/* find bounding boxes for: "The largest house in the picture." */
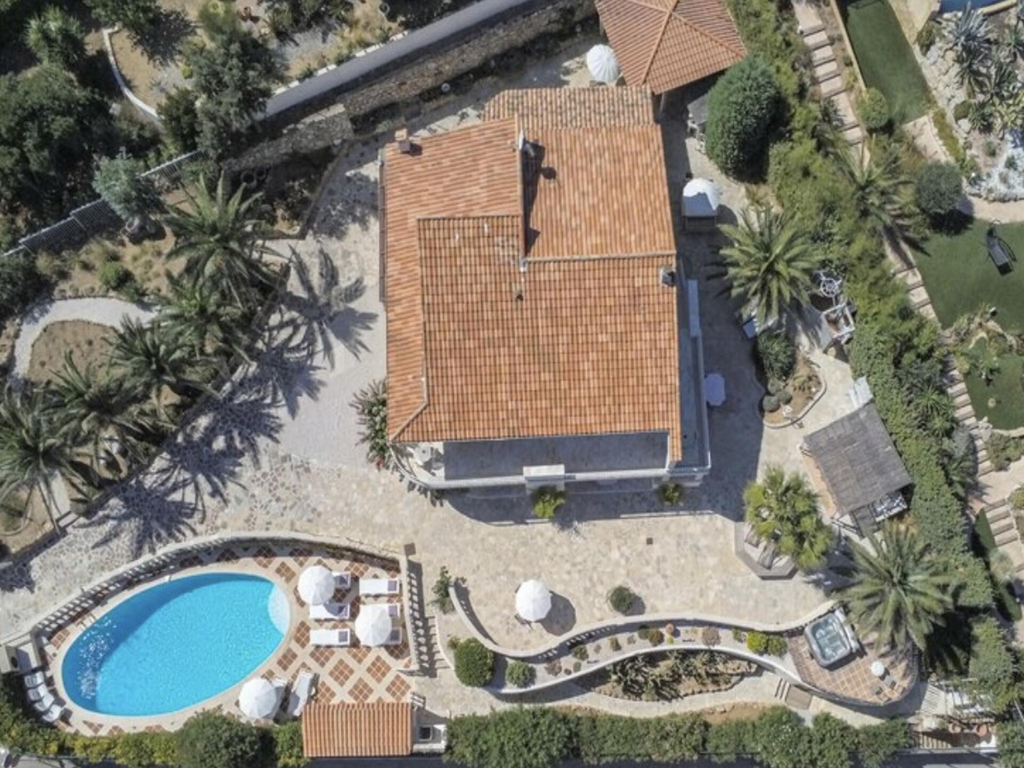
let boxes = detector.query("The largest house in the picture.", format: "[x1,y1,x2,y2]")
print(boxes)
[379,84,711,506]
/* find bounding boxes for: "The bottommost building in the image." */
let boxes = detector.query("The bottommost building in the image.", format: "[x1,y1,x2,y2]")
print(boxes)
[303,702,416,758]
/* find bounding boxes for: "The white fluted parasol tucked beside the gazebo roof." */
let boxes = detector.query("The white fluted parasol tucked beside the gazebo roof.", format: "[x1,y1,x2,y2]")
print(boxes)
[585,51,620,88]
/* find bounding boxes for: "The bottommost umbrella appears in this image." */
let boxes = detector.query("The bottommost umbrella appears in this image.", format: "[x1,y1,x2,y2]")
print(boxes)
[240,678,280,719]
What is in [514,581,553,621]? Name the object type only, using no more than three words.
umbrella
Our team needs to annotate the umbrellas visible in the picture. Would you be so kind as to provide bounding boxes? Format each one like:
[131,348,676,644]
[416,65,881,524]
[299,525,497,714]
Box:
[514,581,553,621]
[240,678,280,719]
[298,567,336,604]
[702,376,729,404]
[585,51,620,88]
[355,606,394,645]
